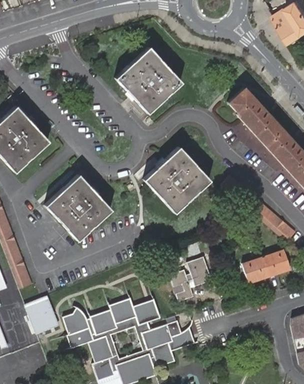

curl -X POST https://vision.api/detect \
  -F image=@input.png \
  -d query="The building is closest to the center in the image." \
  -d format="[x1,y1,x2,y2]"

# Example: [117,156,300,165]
[142,148,212,215]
